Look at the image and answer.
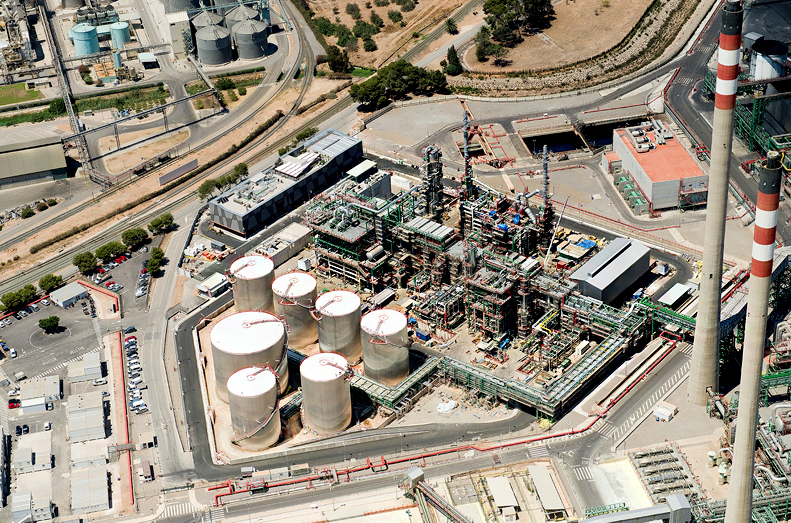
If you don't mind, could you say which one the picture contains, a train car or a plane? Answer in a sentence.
The one in the frame is a train car.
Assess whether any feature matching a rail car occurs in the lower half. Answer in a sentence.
No, no rail car is visible in the lower half.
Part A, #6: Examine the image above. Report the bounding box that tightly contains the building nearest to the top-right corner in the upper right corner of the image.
[740,32,759,59]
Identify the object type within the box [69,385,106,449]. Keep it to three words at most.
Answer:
building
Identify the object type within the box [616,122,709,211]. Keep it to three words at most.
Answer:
house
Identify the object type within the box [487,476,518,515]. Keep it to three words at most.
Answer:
shed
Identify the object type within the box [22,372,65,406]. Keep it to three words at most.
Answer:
building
